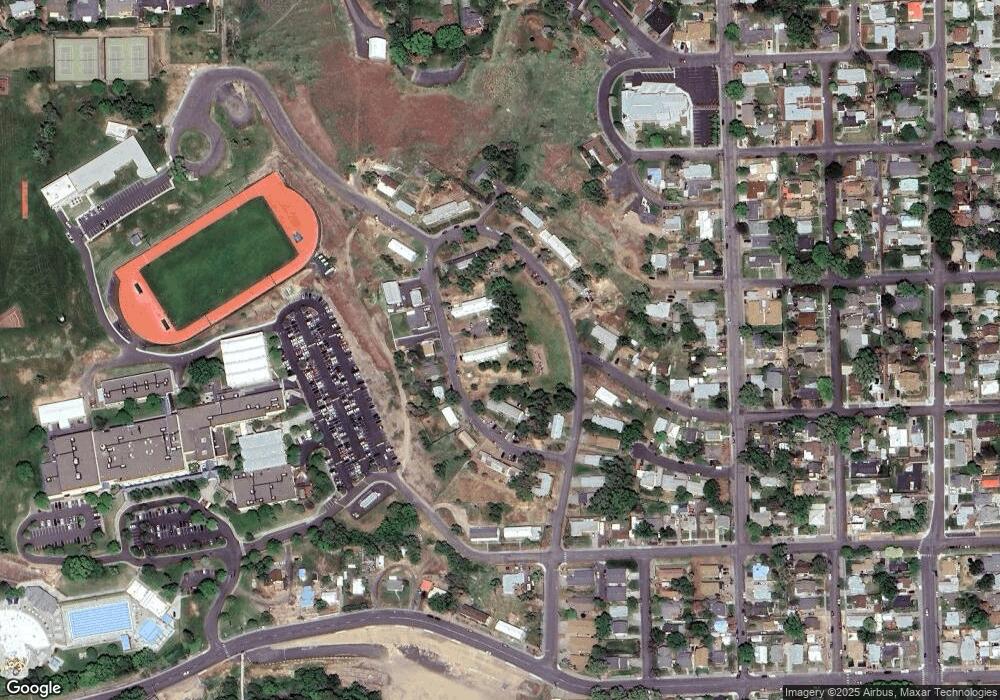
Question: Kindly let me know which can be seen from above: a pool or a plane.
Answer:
pool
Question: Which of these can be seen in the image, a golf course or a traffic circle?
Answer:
traffic circle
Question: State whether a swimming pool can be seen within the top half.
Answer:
No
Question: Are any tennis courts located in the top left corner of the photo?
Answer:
Yes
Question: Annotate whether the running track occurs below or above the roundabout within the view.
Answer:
below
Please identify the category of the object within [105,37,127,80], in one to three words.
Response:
tennis court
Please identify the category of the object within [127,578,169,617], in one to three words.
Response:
building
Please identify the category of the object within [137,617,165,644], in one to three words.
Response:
swimming pool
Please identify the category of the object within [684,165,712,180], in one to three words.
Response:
house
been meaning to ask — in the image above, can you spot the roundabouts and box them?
[166,117,222,173]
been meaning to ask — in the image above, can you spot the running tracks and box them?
[116,173,319,345]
